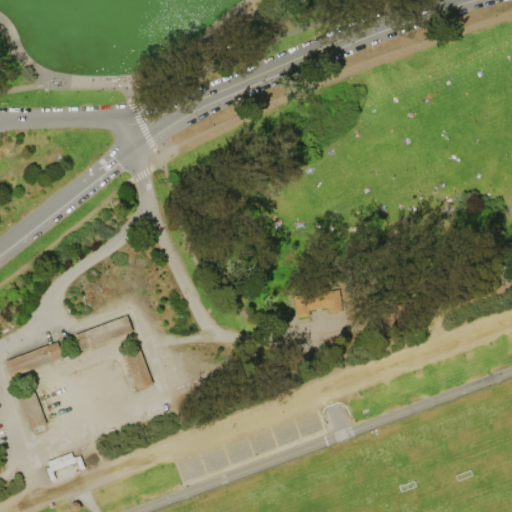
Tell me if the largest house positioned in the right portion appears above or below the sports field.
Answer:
above it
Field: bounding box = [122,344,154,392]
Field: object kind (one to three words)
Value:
building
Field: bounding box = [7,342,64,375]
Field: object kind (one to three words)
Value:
building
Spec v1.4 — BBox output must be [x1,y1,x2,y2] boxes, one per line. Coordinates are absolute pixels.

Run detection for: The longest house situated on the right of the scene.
[294,288,344,320]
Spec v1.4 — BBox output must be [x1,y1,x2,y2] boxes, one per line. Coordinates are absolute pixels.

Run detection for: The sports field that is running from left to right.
[155,378,512,512]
